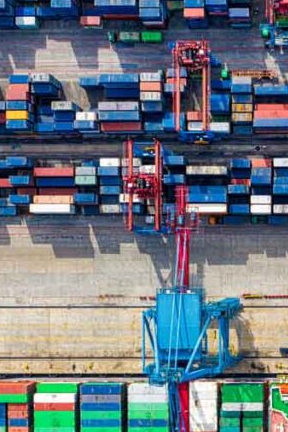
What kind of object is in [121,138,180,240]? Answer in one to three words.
crane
